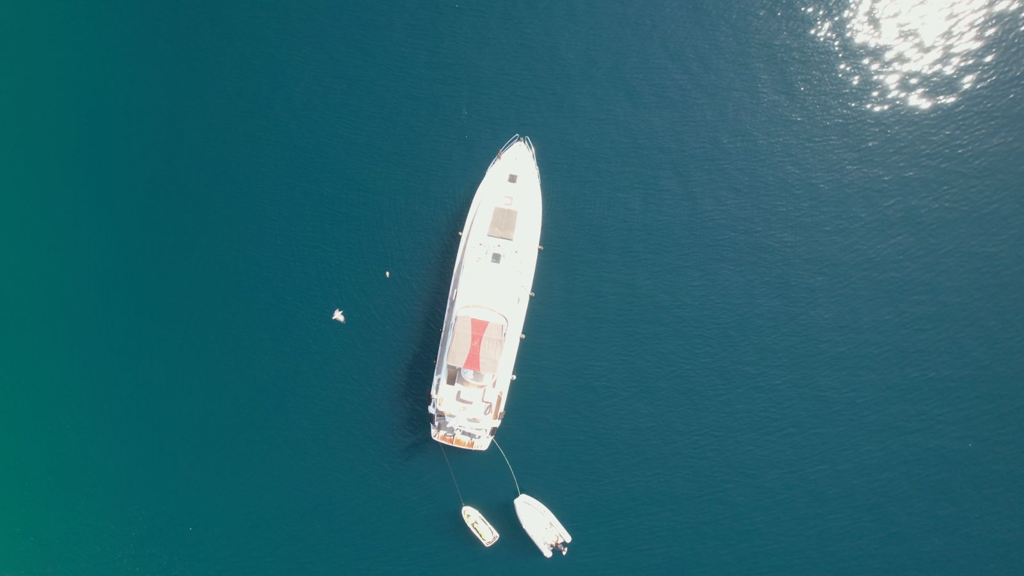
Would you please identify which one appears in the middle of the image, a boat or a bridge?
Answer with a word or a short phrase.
boat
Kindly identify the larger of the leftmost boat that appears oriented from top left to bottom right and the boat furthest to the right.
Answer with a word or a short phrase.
the boat furthest to the right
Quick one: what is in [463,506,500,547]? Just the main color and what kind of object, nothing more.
white boat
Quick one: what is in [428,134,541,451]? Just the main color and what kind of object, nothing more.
white boat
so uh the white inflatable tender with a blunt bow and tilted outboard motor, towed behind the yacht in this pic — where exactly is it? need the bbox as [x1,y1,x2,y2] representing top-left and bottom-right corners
[514,495,572,558]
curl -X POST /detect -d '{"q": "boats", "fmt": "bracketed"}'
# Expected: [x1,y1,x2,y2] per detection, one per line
[463,506,500,547]
[514,495,572,558]
[428,134,541,451]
